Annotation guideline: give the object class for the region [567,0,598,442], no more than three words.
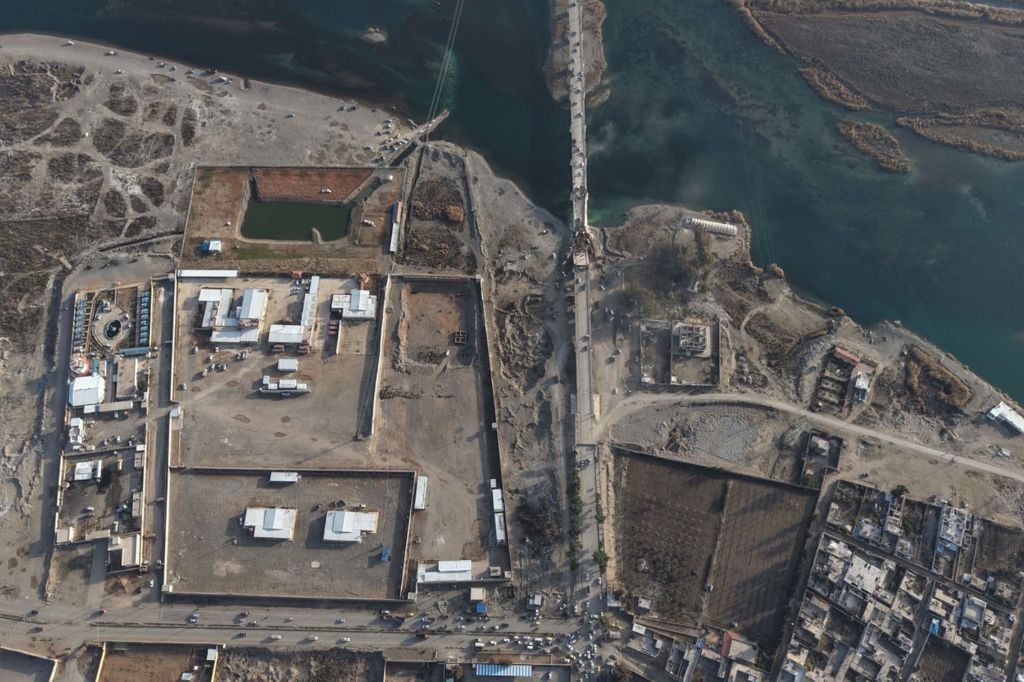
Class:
bridge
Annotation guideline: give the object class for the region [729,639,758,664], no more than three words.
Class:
house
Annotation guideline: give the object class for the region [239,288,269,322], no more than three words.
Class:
building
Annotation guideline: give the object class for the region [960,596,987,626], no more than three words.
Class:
house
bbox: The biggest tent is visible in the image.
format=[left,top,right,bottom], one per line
[69,377,109,407]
